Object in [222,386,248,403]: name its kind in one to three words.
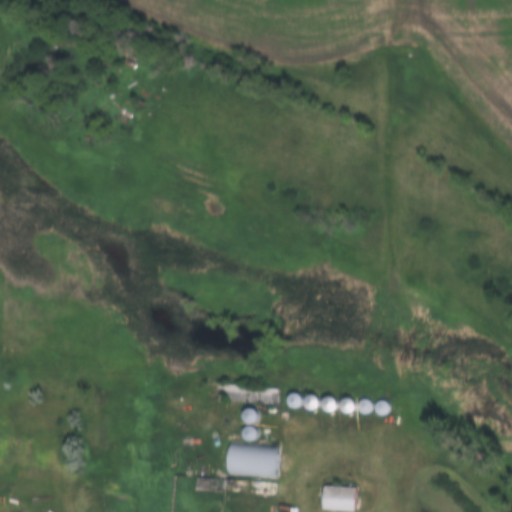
shed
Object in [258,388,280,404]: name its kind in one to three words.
shed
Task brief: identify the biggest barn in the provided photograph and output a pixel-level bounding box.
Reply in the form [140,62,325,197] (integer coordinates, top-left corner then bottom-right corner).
[227,444,283,480]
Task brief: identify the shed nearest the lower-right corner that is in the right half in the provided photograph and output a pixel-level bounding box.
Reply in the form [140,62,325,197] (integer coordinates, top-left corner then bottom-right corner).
[322,486,358,512]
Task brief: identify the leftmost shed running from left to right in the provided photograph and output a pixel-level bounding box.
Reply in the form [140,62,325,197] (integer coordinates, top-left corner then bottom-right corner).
[197,478,228,493]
